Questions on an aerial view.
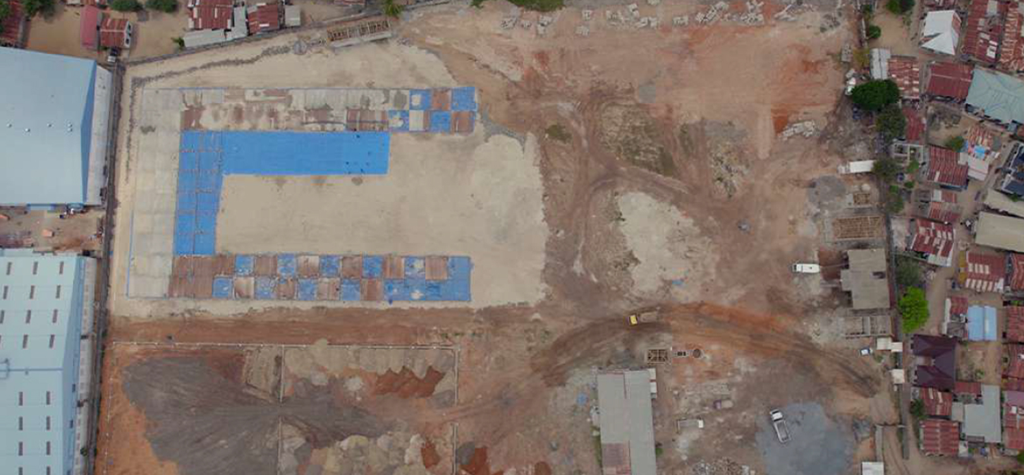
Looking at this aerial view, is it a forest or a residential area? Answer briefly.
residential area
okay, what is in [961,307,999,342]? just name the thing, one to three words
house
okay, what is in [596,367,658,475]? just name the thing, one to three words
shed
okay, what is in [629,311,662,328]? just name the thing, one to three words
vehicle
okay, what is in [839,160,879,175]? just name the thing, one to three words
vehicle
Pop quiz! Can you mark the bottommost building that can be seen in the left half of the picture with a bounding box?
[0,256,94,475]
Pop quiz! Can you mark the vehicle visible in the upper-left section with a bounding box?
[103,47,118,61]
